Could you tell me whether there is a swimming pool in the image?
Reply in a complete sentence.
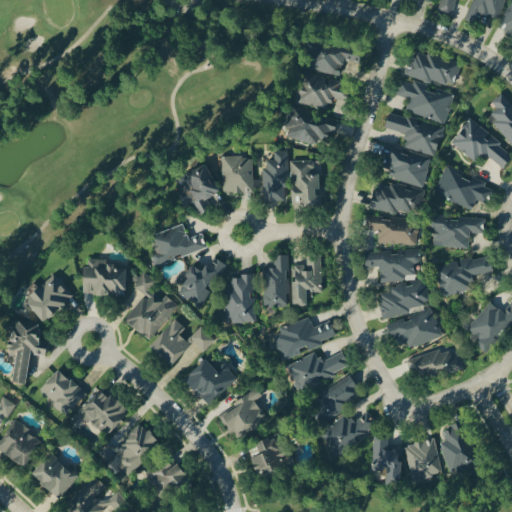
Yes, I can see a swimming pool in this picture.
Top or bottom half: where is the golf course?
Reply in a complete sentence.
Seen from above, the golf course lies in the top half of the view.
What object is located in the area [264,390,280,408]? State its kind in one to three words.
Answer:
swimming pool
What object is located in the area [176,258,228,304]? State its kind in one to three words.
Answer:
house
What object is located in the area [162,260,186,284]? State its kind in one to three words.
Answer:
swimming pool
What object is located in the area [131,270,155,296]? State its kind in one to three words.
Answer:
building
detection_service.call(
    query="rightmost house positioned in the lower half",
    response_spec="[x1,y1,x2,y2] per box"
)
[469,300,512,352]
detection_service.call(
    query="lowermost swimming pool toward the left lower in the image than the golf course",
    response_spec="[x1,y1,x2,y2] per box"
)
[58,445,82,466]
